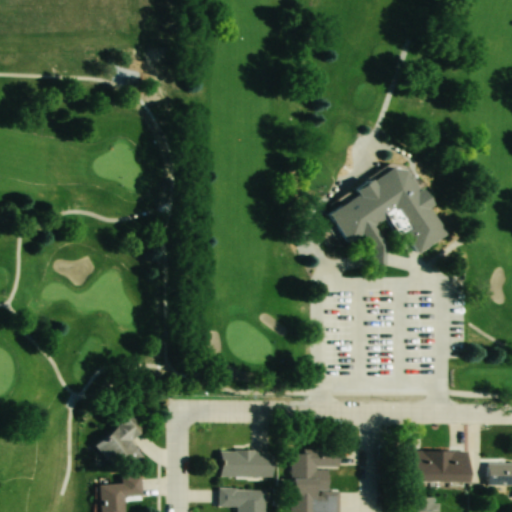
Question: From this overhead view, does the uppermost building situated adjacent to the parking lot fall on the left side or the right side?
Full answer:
The uppermost building situated adjacent to the parking lot sits on the right side.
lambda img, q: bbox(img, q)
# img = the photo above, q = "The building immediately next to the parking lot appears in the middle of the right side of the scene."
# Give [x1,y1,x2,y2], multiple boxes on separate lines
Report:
[330,168,448,269]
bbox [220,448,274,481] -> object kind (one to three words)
house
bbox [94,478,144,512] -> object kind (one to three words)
house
